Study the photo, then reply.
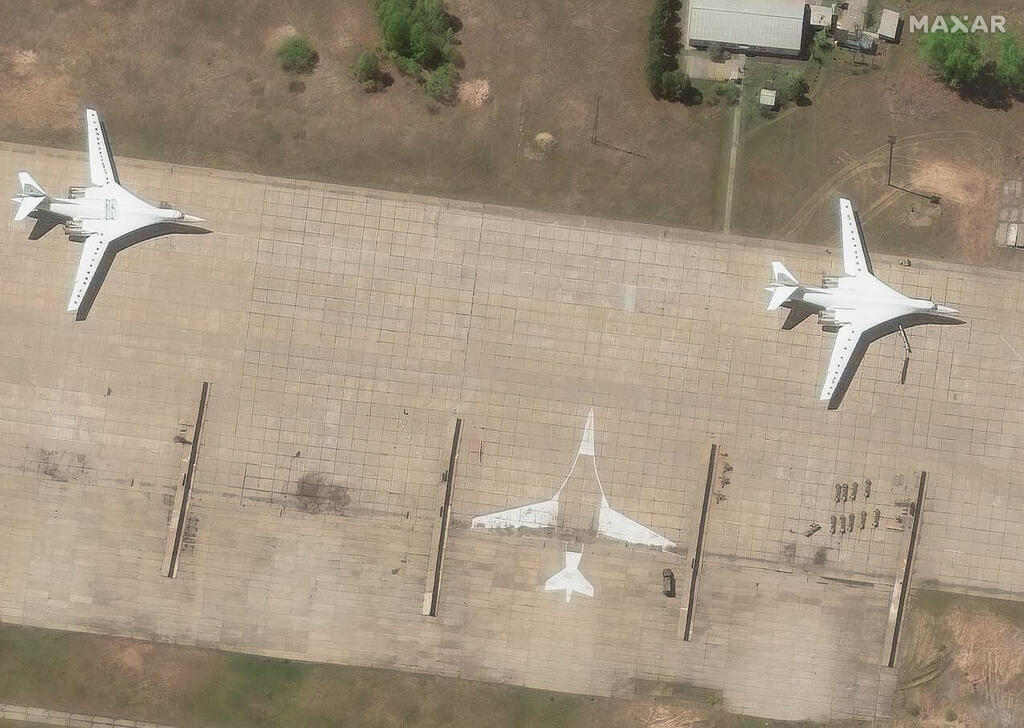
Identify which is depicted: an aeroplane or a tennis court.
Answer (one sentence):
Of the two, only an aeroplane appears.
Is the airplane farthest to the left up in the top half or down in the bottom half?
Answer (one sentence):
The top half of the photo is where the airplane farthest to the left is.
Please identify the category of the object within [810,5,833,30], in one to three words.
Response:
shed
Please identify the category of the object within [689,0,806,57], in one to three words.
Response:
building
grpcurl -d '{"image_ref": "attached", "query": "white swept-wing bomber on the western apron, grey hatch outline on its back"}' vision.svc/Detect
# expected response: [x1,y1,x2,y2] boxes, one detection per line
[12,108,205,311]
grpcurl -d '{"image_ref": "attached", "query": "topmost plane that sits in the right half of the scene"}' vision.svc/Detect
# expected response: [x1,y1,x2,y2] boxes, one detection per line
[765,198,959,401]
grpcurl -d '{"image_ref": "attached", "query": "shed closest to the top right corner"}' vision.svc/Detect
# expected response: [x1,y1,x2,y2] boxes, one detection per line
[877,9,902,43]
